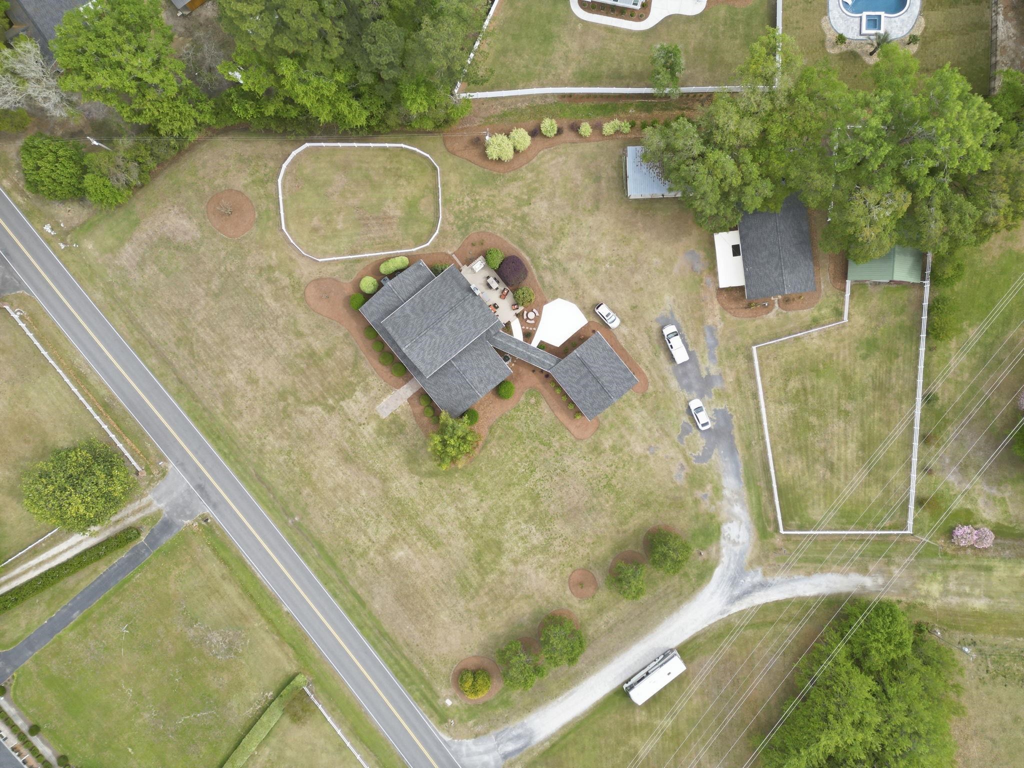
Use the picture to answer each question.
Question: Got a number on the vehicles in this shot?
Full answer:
Looking from above, you can make out 4 vehicles.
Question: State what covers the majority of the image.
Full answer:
For the most part, this view shows grass.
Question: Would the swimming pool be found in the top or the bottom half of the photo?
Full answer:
You can find the swimming pool in the top half.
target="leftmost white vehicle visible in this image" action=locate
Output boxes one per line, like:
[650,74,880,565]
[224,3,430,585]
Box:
[594,299,619,330]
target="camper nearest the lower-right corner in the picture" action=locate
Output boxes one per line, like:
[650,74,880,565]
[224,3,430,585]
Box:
[625,647,686,704]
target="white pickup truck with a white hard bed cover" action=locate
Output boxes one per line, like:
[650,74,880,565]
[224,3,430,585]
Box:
[662,324,692,366]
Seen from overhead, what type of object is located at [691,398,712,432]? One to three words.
car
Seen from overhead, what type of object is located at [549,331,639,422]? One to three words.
building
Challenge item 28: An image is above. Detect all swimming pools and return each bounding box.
[840,0,911,34]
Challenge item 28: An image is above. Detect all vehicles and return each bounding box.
[662,324,692,366]
[625,647,686,704]
[594,299,619,330]
[691,398,712,432]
